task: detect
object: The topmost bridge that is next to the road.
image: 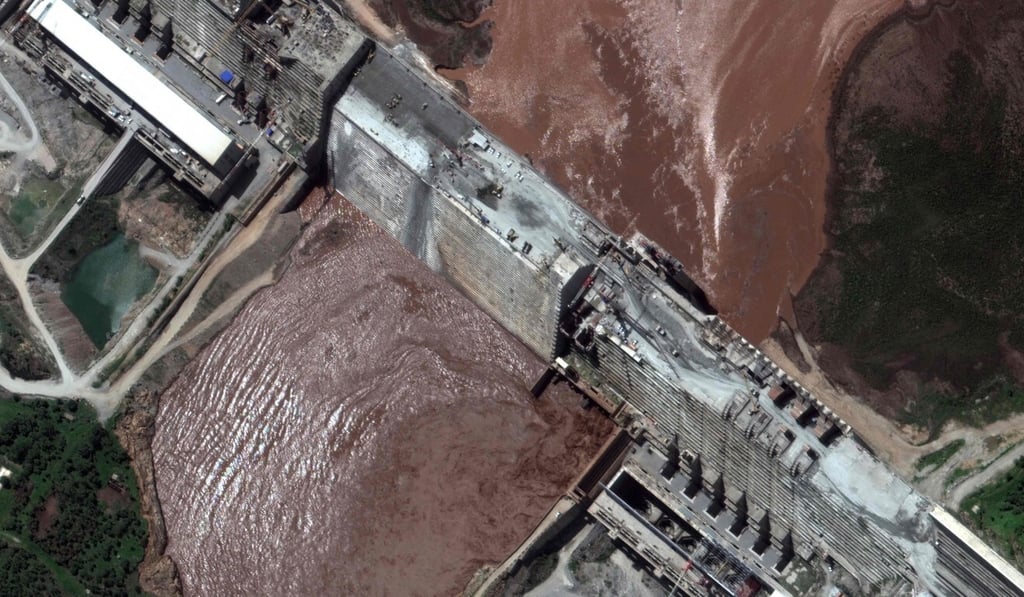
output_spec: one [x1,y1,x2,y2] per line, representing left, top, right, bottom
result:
[80,127,140,202]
